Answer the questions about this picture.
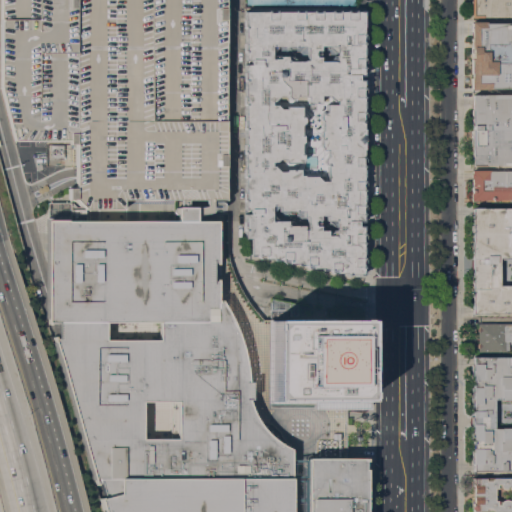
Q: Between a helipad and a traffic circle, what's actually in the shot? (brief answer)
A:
helipad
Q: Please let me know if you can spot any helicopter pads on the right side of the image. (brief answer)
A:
Yes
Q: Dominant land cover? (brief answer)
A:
buildings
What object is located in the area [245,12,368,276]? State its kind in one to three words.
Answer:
building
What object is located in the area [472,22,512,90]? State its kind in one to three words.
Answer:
building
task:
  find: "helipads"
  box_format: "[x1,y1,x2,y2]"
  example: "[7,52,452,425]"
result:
[323,336,374,388]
